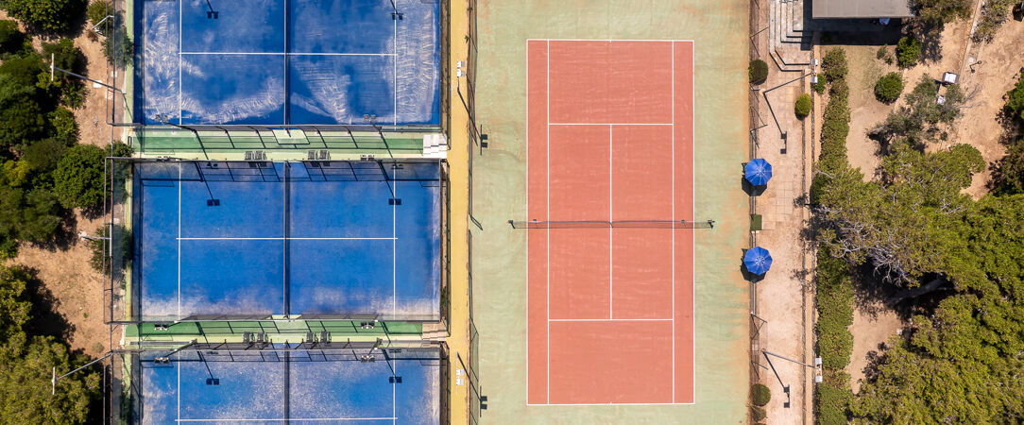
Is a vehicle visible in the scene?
No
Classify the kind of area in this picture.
sports ground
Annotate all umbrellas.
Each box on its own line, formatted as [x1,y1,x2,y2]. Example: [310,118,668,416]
[744,247,773,274]
[744,157,774,186]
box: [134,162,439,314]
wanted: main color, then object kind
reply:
blue sports court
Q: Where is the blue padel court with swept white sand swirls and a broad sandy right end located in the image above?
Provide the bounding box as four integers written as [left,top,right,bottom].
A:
[134,0,439,130]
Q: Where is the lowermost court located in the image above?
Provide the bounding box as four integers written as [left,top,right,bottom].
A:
[134,342,440,425]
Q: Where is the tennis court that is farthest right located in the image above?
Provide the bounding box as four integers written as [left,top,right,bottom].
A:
[471,0,749,425]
